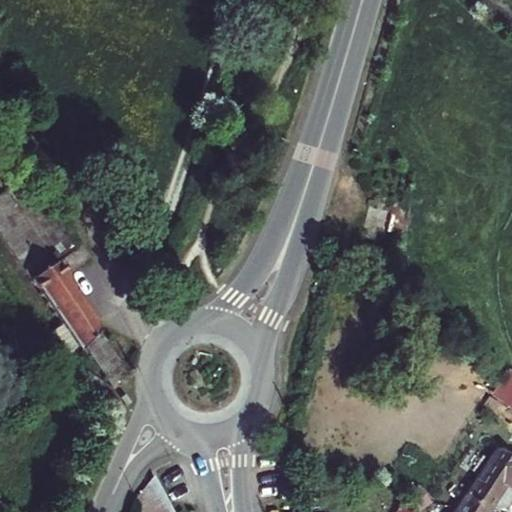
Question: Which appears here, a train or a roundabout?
roundabout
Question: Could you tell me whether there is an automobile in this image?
Yes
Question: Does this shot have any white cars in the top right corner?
No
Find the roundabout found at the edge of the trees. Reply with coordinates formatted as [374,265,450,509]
[136,306,276,452]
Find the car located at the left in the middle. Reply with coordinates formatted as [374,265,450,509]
[74,270,93,296]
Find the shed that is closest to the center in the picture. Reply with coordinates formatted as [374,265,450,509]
[365,206,388,228]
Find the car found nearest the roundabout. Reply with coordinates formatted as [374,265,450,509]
[192,452,208,477]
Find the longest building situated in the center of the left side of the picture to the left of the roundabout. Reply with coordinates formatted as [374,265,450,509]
[35,256,104,348]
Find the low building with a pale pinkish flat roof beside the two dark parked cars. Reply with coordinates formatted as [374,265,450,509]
[137,474,176,512]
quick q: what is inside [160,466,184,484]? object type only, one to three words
car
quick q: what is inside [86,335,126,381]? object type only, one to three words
shed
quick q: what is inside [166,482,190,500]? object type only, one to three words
car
